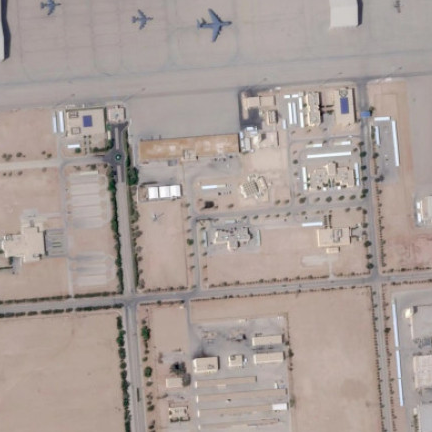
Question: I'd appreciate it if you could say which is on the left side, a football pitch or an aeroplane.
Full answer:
Visible on the left side is an aeroplane.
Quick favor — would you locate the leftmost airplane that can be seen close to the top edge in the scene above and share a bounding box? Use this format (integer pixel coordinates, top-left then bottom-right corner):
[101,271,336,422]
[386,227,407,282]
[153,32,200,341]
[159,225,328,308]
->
[40,0,60,15]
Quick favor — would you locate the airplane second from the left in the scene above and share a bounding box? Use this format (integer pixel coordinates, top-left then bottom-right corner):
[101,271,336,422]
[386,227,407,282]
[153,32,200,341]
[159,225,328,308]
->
[132,9,152,29]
